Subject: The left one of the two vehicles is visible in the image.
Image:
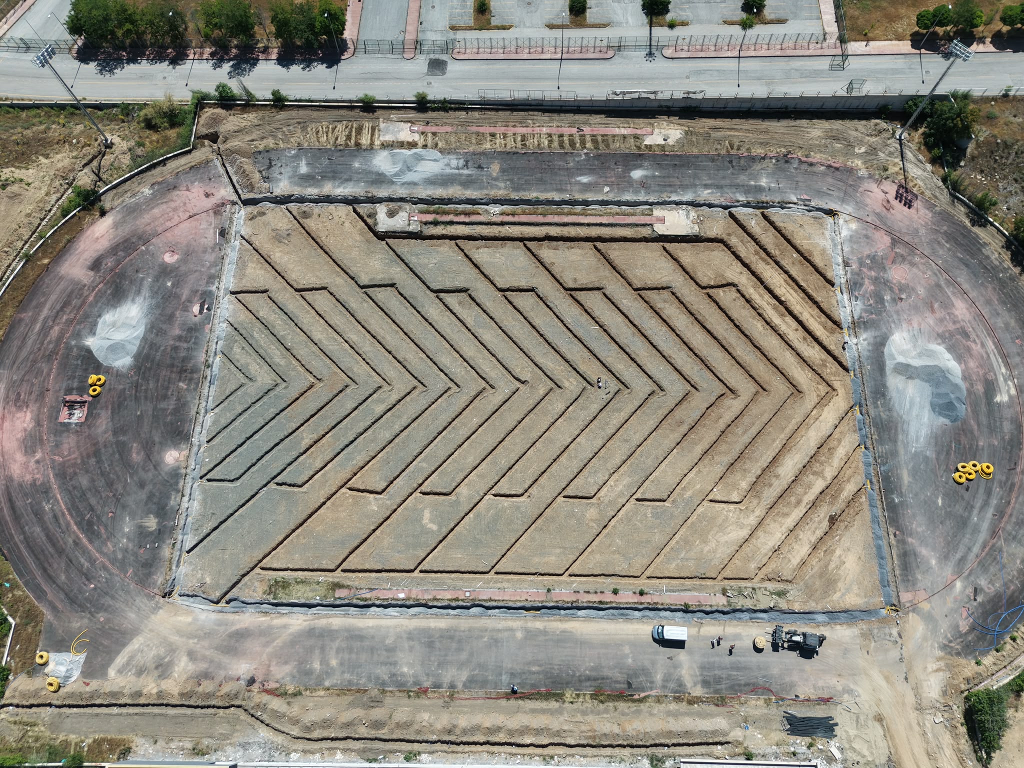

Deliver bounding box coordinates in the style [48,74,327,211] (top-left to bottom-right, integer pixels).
[651,624,689,643]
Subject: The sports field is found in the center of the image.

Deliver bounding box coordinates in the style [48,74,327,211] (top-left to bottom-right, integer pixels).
[182,205,882,607]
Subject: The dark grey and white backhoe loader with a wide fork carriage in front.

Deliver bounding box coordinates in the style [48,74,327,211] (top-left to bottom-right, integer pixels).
[770,629,828,651]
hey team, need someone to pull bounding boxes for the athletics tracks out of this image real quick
[0,149,1024,696]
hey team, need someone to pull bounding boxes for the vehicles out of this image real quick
[651,624,689,643]
[770,629,828,651]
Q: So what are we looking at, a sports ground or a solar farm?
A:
sports ground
